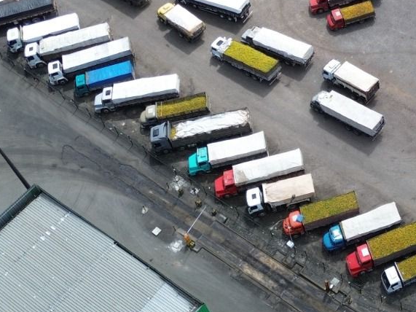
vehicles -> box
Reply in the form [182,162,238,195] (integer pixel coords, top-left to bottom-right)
[376,254,416,298]
[6,13,86,59]
[156,0,208,43]
[315,203,402,262]
[339,223,416,281]
[0,0,61,33]
[322,58,381,105]
[313,90,385,143]
[210,38,281,84]
[134,95,213,134]
[152,109,255,158]
[241,27,316,72]
[90,74,185,118]
[319,1,376,36]
[25,22,117,72]
[174,0,253,24]
[242,174,318,220]
[70,60,139,104]
[208,149,307,205]
[303,0,377,19]
[47,38,140,90]
[183,132,272,181]
[275,191,360,245]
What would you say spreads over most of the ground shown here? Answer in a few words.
paved ground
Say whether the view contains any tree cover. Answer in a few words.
No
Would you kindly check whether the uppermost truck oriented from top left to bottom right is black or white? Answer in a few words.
white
